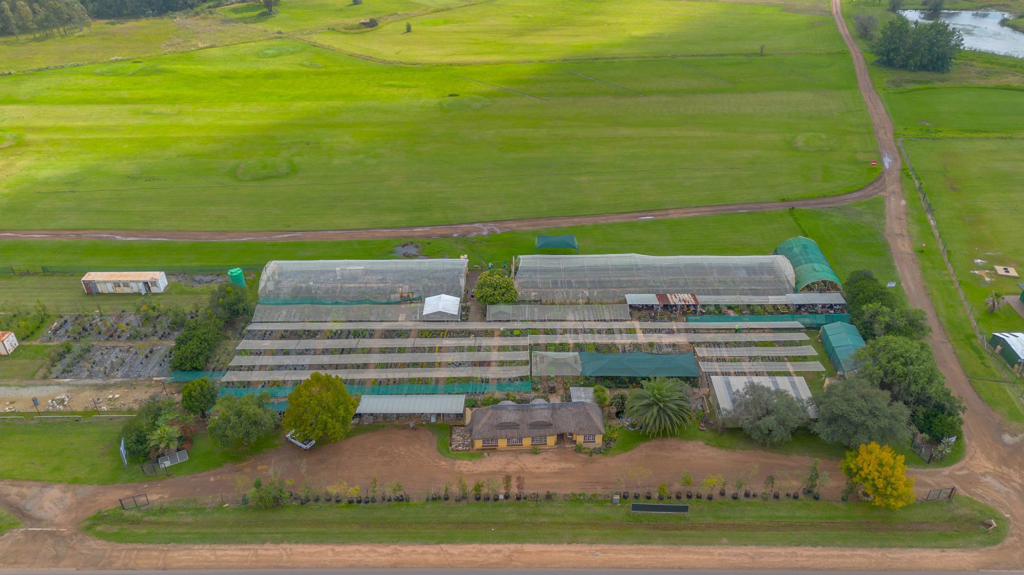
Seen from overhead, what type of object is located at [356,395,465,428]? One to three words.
shed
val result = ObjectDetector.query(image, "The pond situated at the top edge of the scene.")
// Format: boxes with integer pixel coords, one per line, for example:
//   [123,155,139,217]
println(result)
[905,9,1024,58]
